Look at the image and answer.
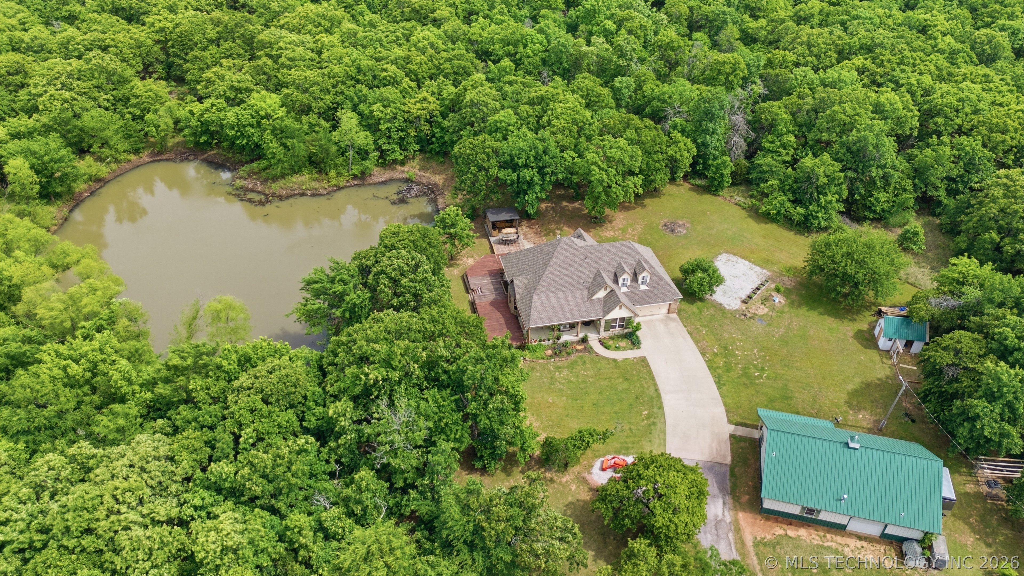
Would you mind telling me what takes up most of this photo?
trees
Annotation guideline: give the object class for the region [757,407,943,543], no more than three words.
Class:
building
